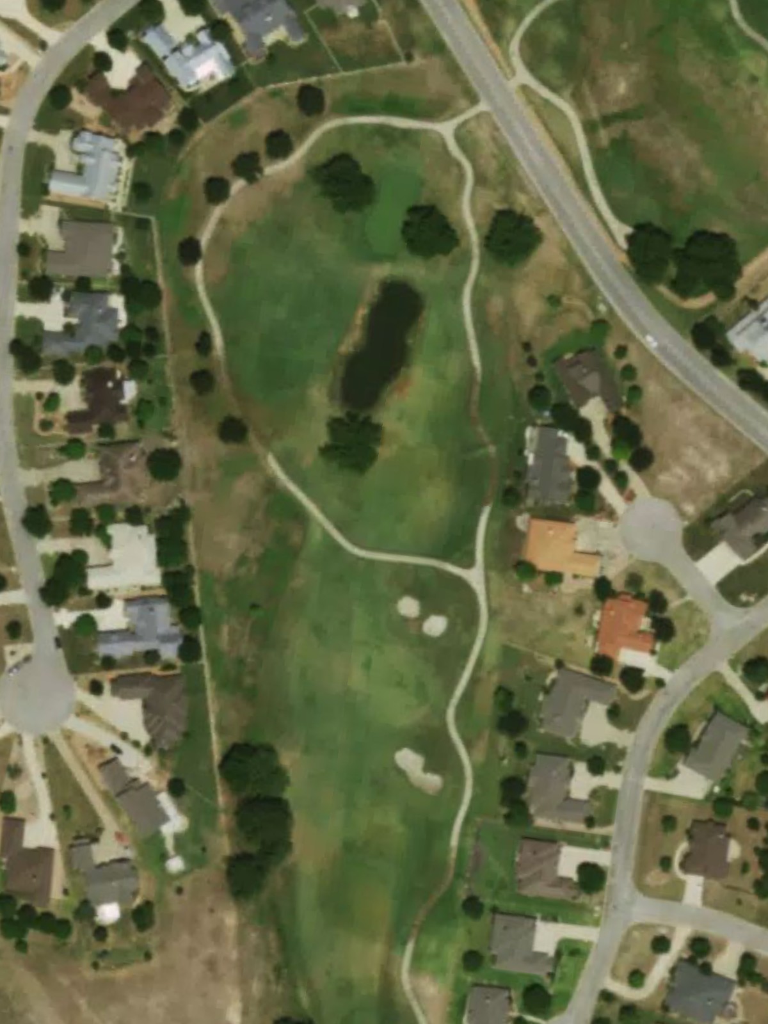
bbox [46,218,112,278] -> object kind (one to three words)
house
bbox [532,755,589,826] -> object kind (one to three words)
house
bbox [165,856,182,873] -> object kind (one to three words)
gazebo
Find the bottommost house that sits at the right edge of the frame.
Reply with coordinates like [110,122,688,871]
[665,958,739,1024]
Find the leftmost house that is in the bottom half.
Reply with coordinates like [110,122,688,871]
[1,816,54,906]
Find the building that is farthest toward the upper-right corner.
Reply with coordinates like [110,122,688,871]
[725,296,768,362]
